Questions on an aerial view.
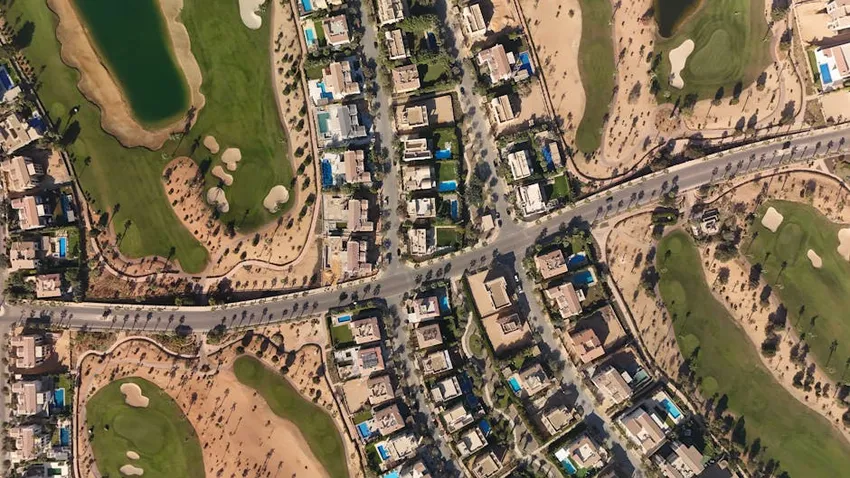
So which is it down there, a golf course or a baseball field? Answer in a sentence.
Visible in the photo is a golf course.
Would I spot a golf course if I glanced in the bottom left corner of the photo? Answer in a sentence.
Yes, looking in the bottom left corner of the photo, one can make out a golf course.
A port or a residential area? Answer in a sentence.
It's a residential area.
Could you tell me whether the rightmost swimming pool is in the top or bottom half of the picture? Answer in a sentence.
It is in the top half that the rightmost swimming pool appears.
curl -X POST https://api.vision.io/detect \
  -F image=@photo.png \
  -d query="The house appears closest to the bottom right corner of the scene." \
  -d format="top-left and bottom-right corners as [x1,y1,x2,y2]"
[659,442,705,478]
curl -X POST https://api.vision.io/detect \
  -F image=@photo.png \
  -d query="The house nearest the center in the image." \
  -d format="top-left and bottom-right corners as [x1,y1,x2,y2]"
[408,228,431,257]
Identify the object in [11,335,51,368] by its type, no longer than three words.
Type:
house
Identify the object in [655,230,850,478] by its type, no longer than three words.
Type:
golf course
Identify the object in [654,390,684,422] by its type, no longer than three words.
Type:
swimming pool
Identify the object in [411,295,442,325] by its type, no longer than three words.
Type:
house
